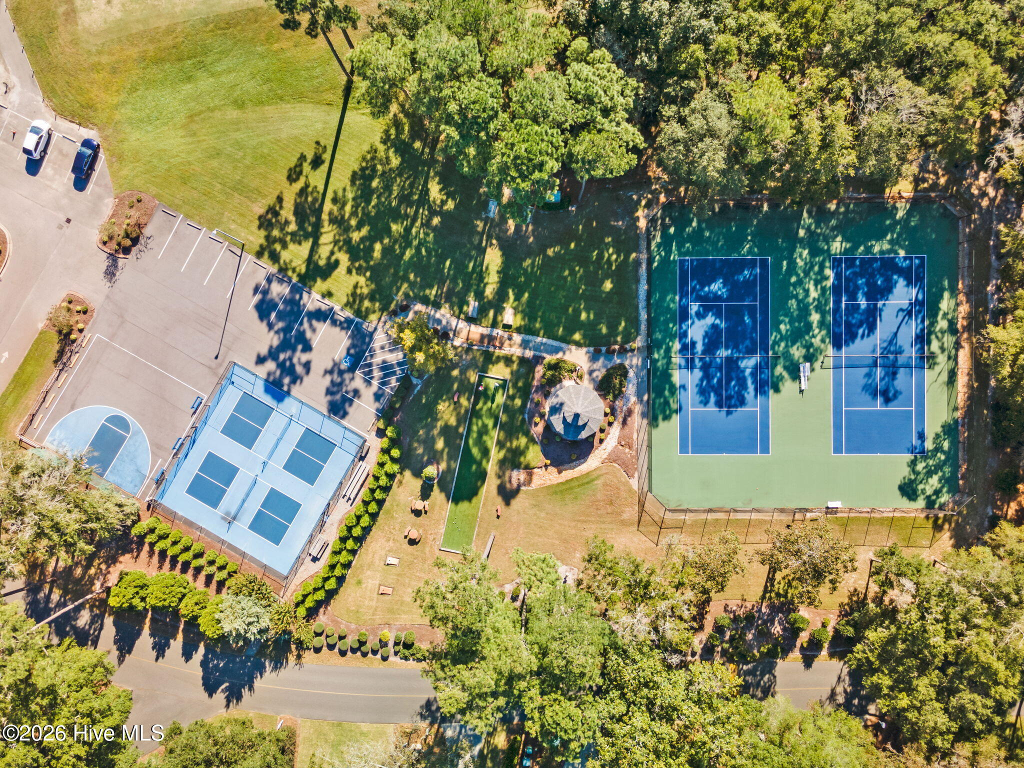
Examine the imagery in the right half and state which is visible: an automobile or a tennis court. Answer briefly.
tennis court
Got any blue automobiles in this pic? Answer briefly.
Yes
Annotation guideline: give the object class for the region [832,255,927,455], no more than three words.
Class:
tennis court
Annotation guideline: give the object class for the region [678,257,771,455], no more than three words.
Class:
tennis court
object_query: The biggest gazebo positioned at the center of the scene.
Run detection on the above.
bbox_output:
[548,384,604,441]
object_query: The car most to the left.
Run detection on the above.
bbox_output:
[20,118,52,158]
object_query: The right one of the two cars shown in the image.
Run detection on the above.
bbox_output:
[68,142,99,181]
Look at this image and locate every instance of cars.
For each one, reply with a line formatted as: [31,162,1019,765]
[20,118,52,158]
[68,142,99,181]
